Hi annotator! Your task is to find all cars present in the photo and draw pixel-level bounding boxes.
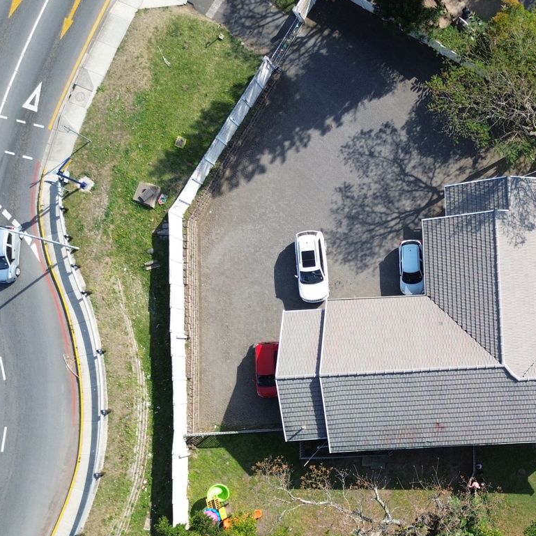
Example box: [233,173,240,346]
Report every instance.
[252,340,280,401]
[394,239,423,296]
[295,230,331,302]
[0,226,28,285]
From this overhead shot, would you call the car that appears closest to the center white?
Yes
